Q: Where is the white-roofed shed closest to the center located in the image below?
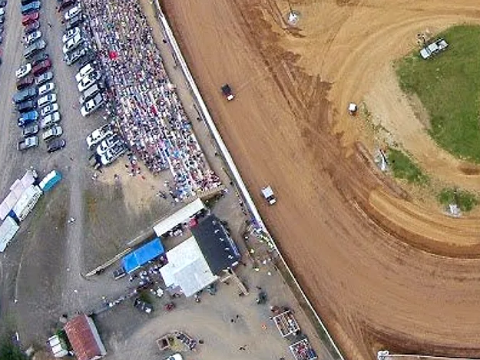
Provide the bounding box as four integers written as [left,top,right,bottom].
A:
[154,199,208,241]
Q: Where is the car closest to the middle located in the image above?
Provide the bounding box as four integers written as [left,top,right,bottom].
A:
[259,183,277,208]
